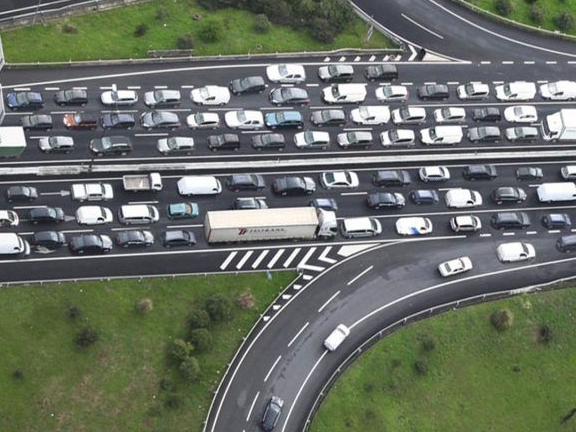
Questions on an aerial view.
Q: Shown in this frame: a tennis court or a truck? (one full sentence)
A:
This aerial view contains a truck.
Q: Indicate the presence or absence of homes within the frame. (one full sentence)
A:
No, there's no home here.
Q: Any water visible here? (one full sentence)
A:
No, the scene doesn't show any water.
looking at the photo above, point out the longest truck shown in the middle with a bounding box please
[202,206,336,242]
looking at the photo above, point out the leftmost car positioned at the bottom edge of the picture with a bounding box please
[261,395,285,432]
